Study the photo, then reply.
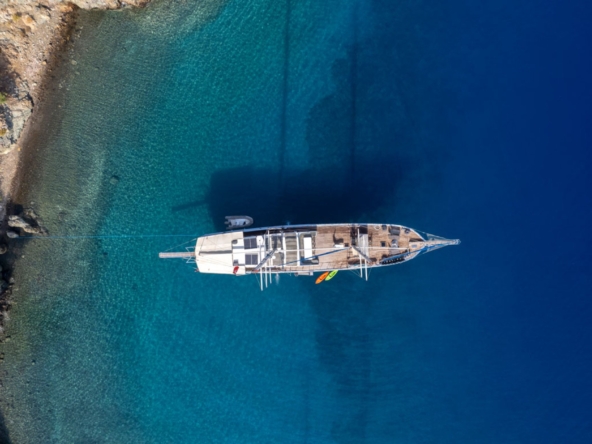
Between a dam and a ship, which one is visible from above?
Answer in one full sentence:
Looking from above, you can make out a ship.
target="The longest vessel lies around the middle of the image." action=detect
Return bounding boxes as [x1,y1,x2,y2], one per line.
[161,223,465,289]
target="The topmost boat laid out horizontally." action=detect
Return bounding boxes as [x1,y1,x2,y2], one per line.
[219,214,251,229]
